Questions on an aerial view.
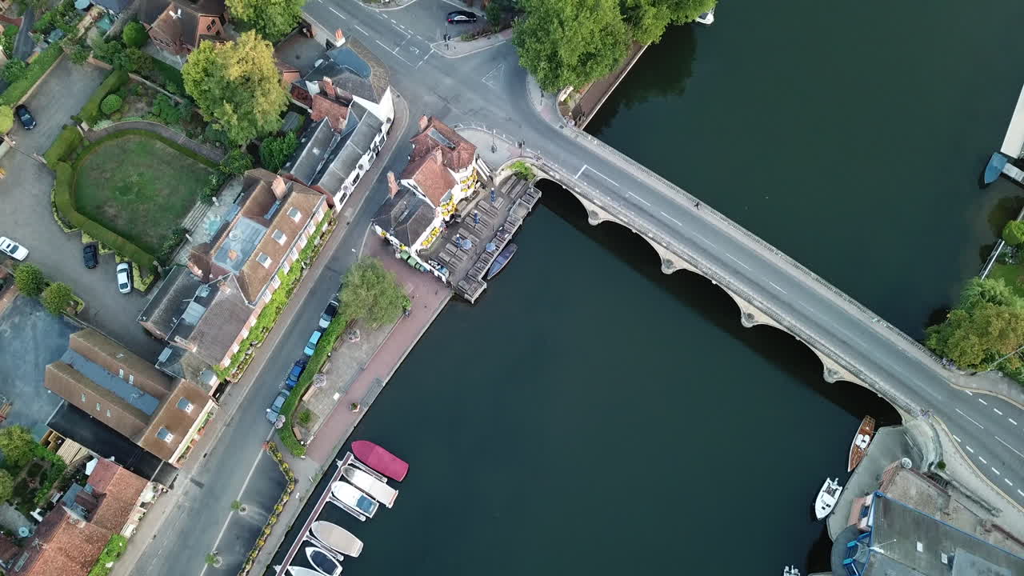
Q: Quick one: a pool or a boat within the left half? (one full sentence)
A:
What appears within the left half is a boat.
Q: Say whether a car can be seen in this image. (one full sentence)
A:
Yes, the photo shows a car.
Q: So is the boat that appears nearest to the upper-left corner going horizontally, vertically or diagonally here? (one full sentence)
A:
Seen from above, the boat that appears nearest to the upper-left corner lies diagonally.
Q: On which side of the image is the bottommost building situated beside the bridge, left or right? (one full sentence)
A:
The bottommost building situated beside the bridge is on the right side of the image.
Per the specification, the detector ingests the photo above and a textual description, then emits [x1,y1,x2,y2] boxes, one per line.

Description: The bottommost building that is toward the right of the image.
[814,490,1024,576]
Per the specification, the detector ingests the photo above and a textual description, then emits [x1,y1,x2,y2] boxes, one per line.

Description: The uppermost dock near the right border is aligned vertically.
[1000,95,1024,160]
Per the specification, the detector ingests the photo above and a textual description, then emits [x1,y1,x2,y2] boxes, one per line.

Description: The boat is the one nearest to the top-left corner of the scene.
[488,243,518,280]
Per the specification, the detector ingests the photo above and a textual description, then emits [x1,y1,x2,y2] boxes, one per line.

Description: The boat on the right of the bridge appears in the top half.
[982,152,1011,186]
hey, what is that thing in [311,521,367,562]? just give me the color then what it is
white boat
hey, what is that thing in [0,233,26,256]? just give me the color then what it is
white car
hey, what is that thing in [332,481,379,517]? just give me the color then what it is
white boat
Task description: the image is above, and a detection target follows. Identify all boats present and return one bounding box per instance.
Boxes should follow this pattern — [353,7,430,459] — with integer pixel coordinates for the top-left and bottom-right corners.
[848,415,877,472]
[693,9,715,27]
[332,481,379,517]
[305,547,344,576]
[982,152,1011,186]
[342,467,399,507]
[311,521,367,562]
[353,442,410,482]
[815,477,844,520]
[488,243,518,280]
[782,567,800,576]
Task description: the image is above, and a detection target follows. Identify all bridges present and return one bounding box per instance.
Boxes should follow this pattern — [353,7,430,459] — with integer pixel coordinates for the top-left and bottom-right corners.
[531,119,958,421]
